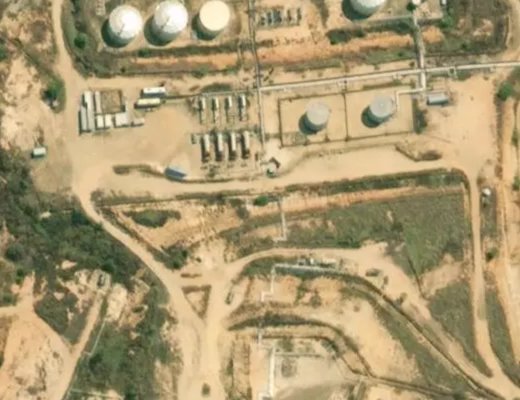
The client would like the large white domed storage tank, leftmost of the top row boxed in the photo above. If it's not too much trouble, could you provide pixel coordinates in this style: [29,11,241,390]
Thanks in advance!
[108,6,142,46]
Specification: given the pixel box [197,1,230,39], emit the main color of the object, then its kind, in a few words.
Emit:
white storage tank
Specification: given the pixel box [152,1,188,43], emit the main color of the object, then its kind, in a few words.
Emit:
white storage tank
